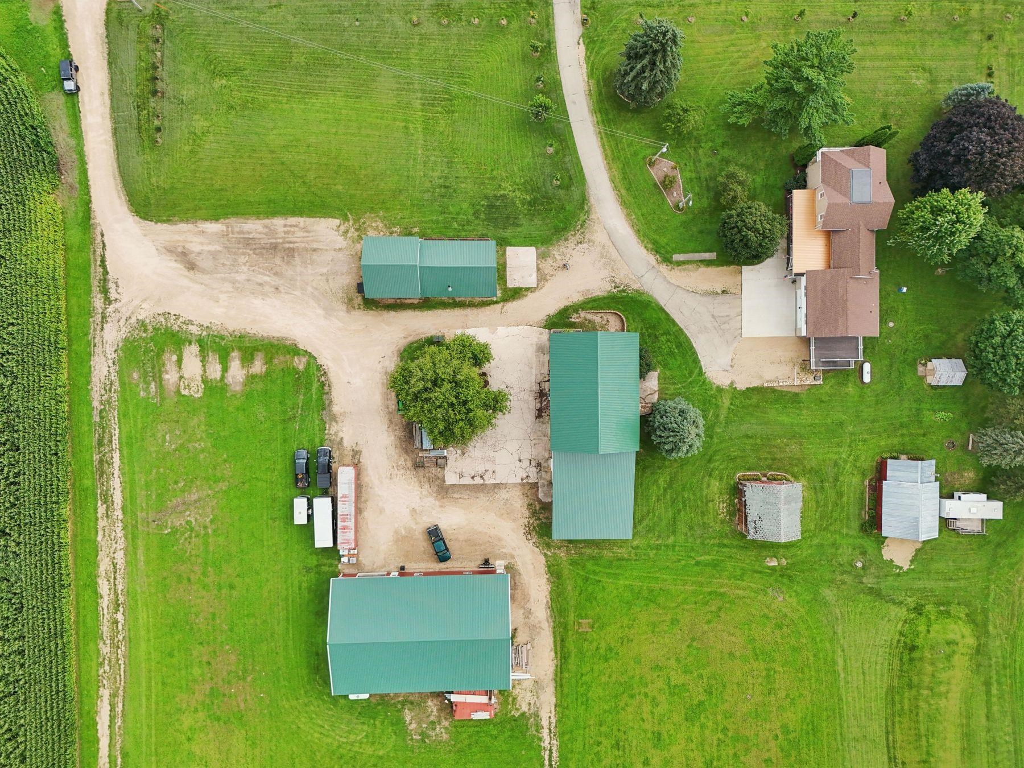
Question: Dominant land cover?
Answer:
grass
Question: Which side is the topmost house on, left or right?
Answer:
right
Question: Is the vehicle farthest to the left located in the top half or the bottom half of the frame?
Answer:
top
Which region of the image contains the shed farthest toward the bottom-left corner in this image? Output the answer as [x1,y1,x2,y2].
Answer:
[326,568,512,695]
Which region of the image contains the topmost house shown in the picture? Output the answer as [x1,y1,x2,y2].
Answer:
[807,145,895,231]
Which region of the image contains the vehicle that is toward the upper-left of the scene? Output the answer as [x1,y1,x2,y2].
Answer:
[56,61,78,95]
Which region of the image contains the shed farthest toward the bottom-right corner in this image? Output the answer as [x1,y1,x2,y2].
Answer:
[875,481,939,541]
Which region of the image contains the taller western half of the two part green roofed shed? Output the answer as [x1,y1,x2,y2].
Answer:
[361,236,422,298]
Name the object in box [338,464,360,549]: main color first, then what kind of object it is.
white trailer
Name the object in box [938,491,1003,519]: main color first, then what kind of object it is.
white camper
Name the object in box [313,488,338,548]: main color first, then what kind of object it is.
white trailer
